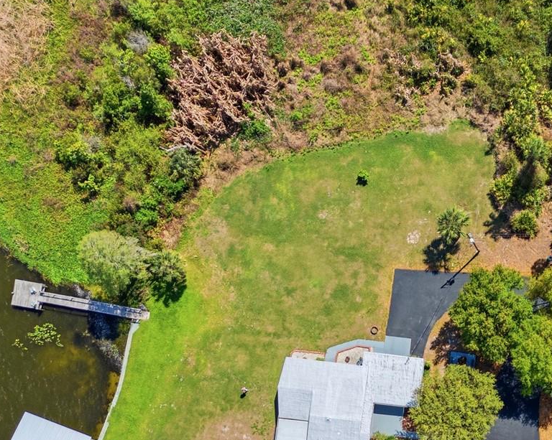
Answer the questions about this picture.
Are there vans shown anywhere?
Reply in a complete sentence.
No, I find no van anywhere in the image.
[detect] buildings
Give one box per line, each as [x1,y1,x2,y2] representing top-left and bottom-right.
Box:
[276,352,424,440]
[11,412,100,440]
